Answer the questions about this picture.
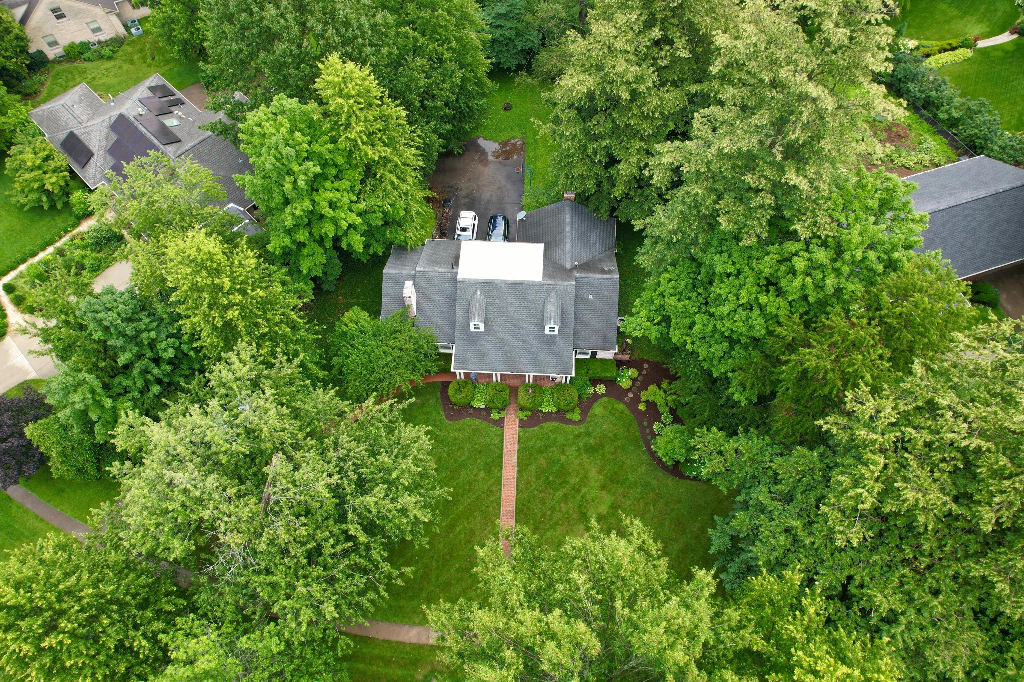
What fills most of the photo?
trees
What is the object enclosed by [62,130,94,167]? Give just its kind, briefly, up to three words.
solar panel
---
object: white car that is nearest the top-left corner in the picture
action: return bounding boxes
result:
[453,210,479,240]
